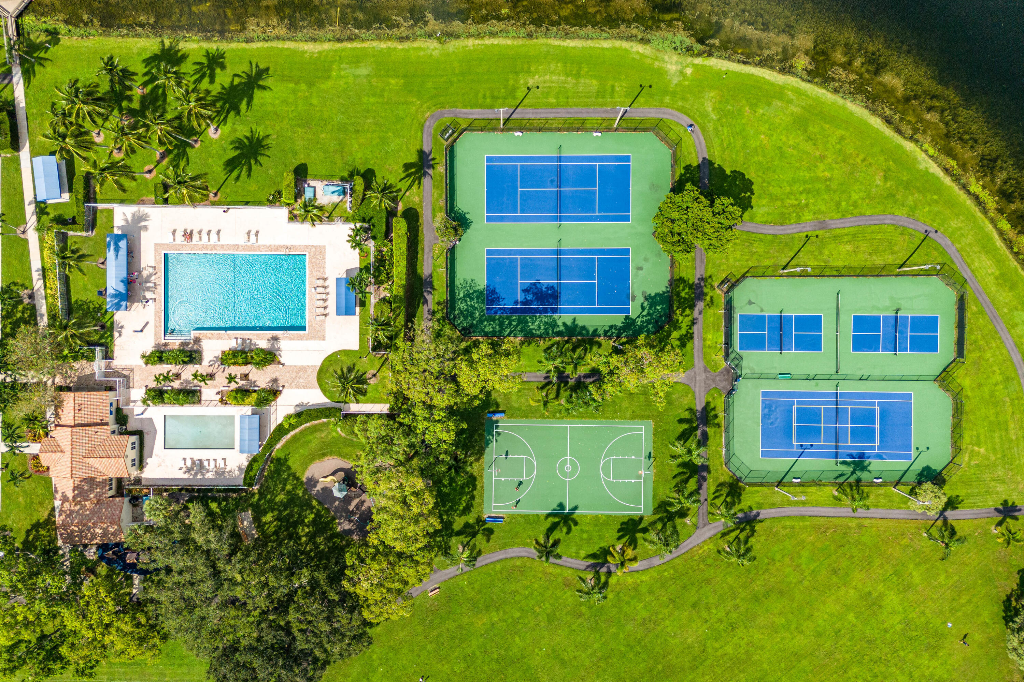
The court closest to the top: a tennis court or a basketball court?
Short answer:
tennis court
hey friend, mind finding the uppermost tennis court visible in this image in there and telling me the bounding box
[447,131,672,235]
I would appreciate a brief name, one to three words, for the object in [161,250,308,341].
swimming pool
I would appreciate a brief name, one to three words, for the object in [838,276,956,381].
sports court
